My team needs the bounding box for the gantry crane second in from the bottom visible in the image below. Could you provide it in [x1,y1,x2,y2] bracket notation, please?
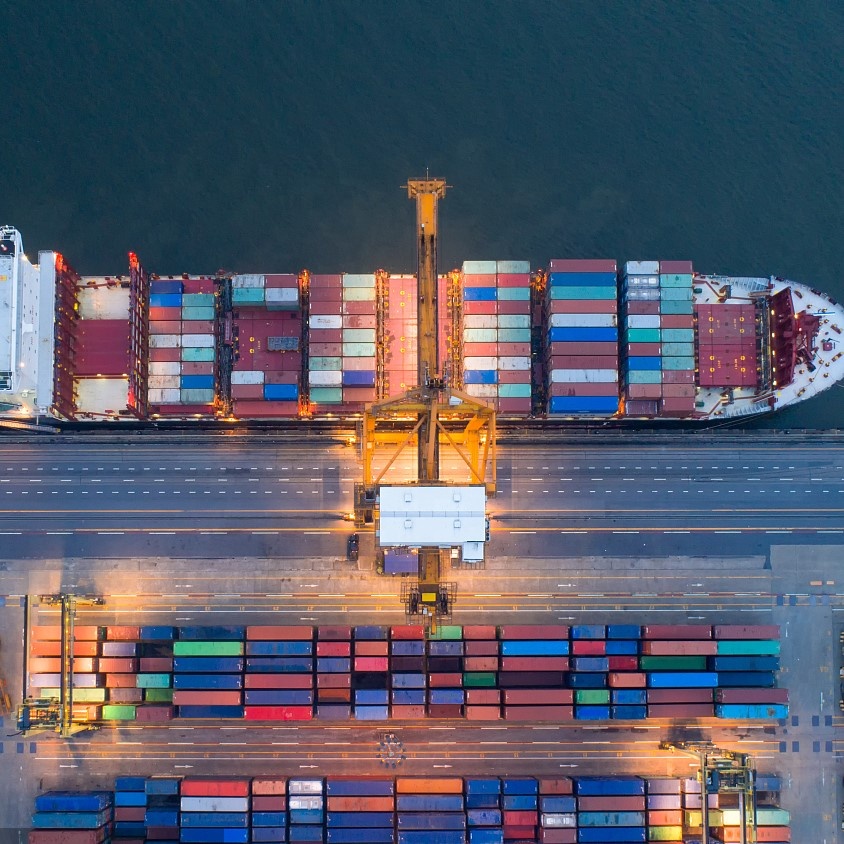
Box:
[14,592,103,746]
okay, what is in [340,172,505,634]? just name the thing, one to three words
container crane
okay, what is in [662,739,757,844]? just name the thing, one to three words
container crane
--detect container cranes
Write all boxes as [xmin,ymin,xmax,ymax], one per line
[340,172,505,634]
[662,739,757,844]
[14,592,103,746]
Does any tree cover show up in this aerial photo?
No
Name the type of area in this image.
port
